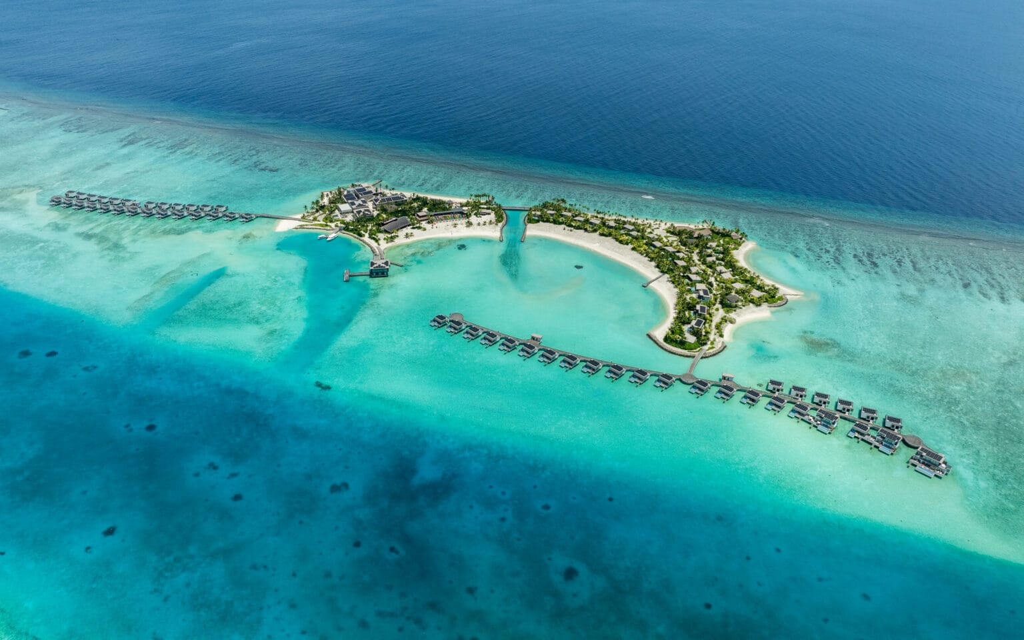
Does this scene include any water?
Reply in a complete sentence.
Yes, water can be seen from above here.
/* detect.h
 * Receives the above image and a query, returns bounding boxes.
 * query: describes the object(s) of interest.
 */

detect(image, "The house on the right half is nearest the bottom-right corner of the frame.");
[906,446,953,477]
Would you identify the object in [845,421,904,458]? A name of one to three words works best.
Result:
house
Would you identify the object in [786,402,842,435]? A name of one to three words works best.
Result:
house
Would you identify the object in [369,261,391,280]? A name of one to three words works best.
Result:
building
